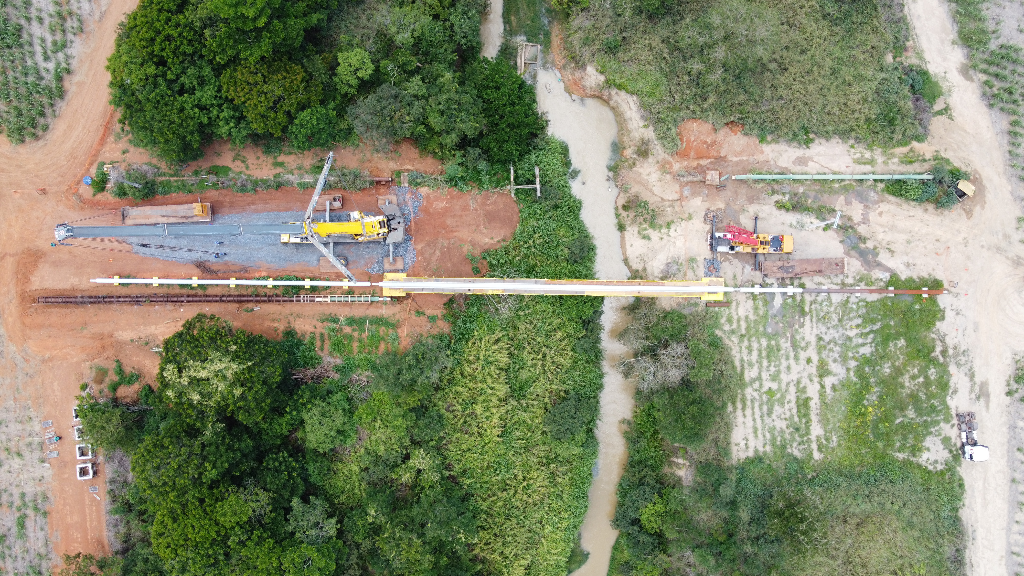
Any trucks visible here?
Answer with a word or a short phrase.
Yes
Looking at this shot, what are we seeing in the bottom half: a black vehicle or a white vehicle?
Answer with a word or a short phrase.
white vehicle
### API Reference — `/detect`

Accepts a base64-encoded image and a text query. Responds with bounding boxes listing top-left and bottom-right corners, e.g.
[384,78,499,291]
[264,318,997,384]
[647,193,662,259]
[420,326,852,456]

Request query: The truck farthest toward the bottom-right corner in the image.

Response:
[953,411,989,462]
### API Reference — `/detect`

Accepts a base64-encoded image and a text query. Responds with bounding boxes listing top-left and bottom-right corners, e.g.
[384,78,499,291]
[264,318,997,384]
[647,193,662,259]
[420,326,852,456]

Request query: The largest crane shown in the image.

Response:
[46,149,406,286]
